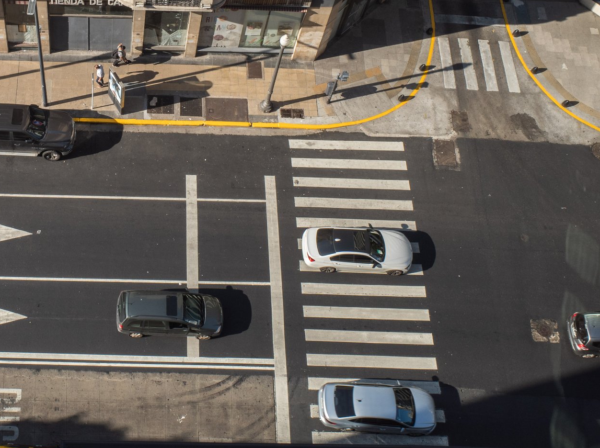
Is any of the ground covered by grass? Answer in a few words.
No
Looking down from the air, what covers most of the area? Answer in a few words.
paved ground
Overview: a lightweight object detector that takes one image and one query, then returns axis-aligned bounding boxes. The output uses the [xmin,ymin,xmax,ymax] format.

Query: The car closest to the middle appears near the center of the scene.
[299,222,414,275]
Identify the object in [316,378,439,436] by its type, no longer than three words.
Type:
car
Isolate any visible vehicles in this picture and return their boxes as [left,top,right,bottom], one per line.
[116,287,225,339]
[316,378,439,436]
[561,311,600,359]
[299,222,414,275]
[0,99,78,158]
